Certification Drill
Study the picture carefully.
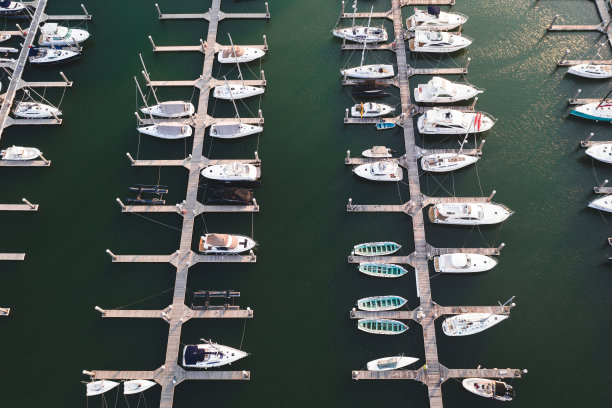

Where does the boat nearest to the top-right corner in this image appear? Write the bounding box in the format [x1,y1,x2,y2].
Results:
[568,38,612,80]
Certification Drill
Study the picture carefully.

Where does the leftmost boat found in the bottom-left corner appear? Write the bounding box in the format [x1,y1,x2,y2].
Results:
[84,381,119,395]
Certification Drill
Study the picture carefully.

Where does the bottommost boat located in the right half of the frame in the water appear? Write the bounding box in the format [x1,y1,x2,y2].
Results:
[463,378,513,401]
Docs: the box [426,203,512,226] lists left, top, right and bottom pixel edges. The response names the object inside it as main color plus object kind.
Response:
white boat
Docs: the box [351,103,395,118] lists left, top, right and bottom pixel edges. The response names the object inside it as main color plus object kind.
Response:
white boat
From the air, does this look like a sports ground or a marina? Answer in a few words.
marina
